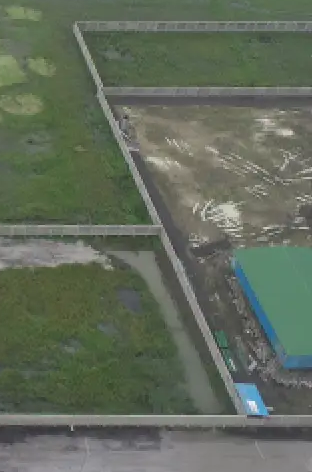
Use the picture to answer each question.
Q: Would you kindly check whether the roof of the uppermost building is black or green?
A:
green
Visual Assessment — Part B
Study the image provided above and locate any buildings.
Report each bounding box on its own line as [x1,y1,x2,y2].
[235,384,268,415]
[231,246,312,369]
